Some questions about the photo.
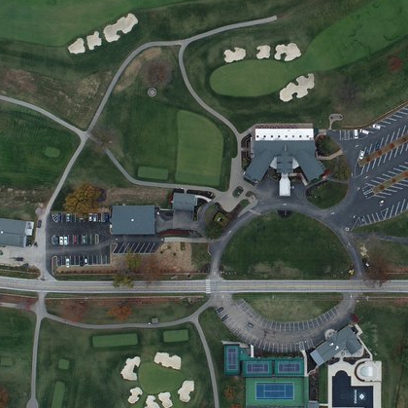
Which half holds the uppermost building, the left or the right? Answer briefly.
right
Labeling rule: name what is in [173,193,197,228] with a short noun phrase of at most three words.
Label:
building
